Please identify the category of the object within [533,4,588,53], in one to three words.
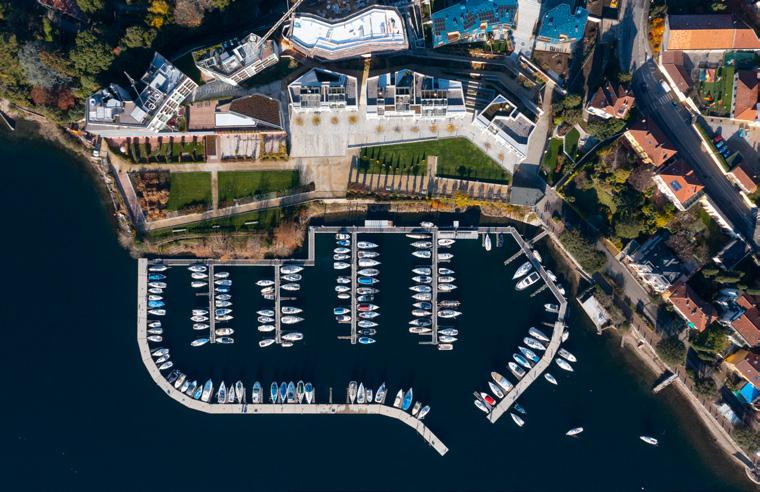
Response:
building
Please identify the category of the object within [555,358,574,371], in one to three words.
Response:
boat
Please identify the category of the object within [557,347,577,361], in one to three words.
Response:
boat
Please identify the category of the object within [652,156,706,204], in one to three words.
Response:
house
